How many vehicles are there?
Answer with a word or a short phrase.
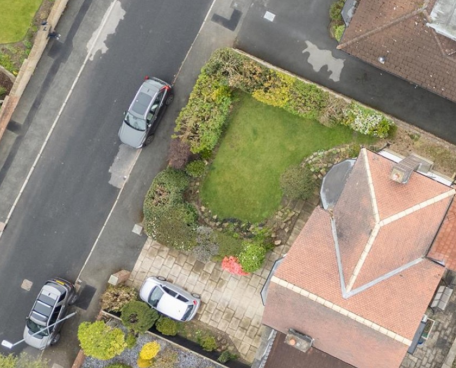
3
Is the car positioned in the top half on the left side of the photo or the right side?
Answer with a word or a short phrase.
left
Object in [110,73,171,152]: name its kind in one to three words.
car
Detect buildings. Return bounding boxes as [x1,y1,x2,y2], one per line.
[260,147,456,368]
[337,0,456,101]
